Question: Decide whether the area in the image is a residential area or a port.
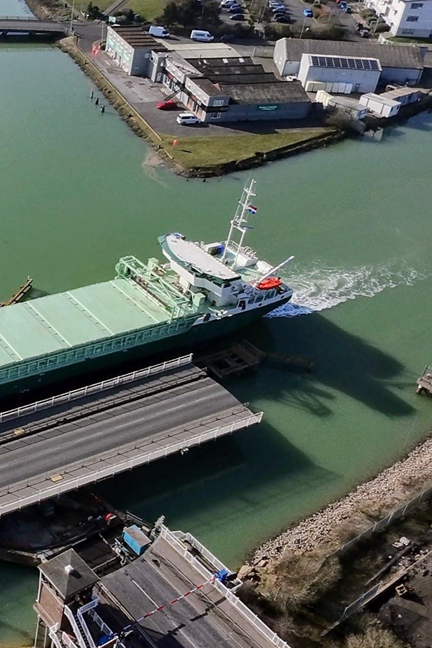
port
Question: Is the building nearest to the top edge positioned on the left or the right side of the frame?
right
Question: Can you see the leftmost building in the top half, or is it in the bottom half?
bottom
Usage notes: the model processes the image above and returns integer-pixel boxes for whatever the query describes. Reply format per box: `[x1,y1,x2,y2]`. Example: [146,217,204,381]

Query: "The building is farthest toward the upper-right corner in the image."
[374,0,432,37]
